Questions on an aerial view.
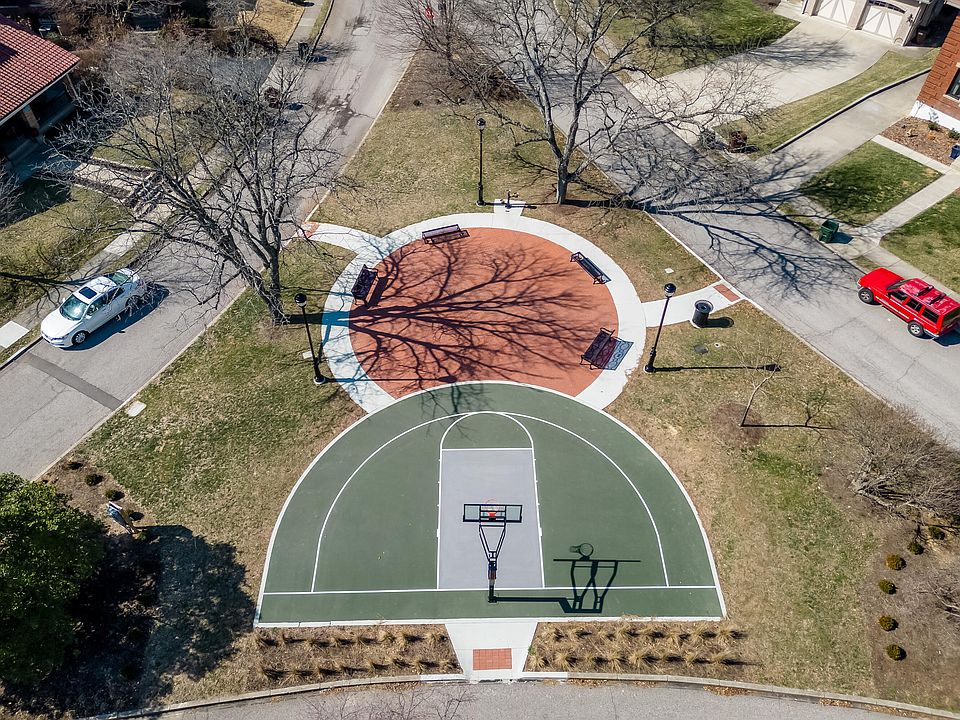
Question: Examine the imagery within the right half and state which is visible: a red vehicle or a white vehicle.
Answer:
red vehicle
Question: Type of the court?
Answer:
basketball court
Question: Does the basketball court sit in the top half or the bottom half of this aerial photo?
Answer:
bottom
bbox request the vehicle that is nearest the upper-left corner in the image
[39,269,148,348]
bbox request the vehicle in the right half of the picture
[853,266,960,343]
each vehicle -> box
[39,269,148,348]
[853,266,960,343]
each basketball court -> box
[256,381,726,628]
